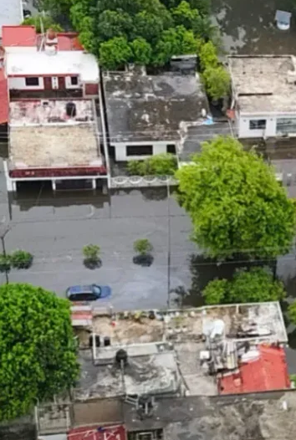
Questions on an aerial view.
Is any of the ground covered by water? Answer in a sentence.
Yes, some water is visible.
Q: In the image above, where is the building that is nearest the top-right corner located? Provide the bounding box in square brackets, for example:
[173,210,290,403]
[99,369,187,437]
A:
[227,53,296,140]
